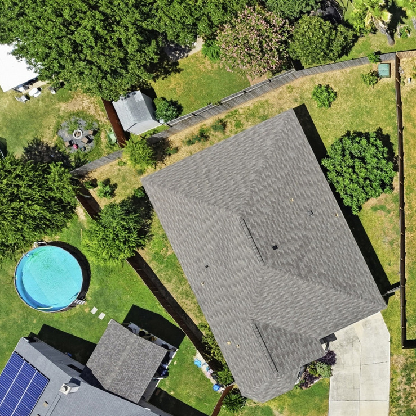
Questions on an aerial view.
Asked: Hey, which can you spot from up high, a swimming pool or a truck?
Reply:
swimming pool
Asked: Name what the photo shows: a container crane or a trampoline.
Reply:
trampoline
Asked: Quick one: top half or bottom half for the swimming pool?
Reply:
bottom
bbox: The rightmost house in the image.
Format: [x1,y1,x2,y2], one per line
[139,110,385,404]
